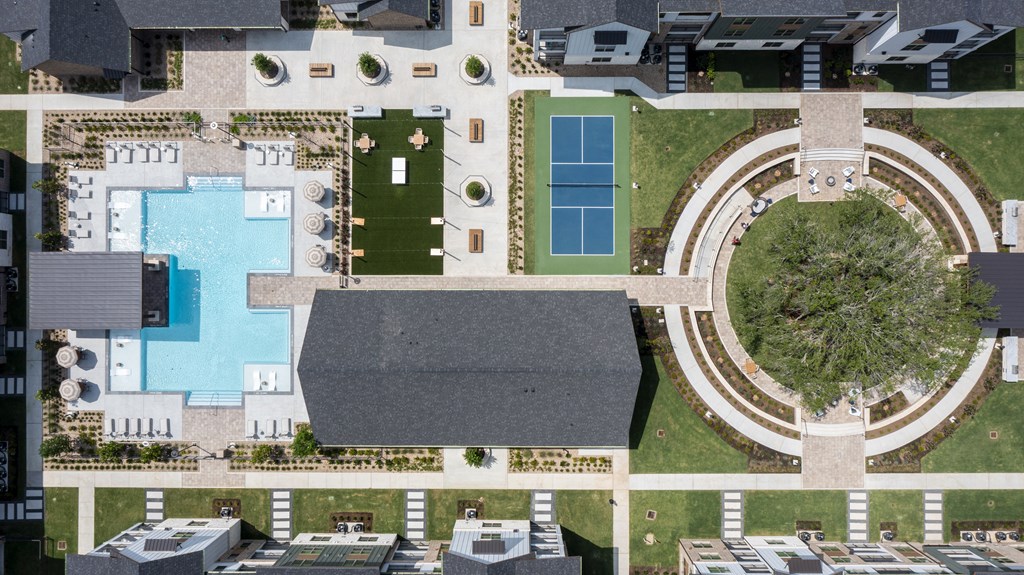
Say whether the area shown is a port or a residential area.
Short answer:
residential area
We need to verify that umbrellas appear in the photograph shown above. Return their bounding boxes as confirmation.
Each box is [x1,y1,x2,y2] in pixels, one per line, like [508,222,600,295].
[304,181,325,201]
[57,346,79,367]
[60,379,82,399]
[303,213,324,234]
[305,247,327,267]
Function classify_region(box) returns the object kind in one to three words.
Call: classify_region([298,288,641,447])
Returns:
building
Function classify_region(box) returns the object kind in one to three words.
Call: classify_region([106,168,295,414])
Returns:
swimming pool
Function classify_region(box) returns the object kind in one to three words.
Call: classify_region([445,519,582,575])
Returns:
house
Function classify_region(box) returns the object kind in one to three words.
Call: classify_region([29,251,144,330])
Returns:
building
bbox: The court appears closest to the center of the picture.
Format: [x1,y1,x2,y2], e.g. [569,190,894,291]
[535,97,630,275]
